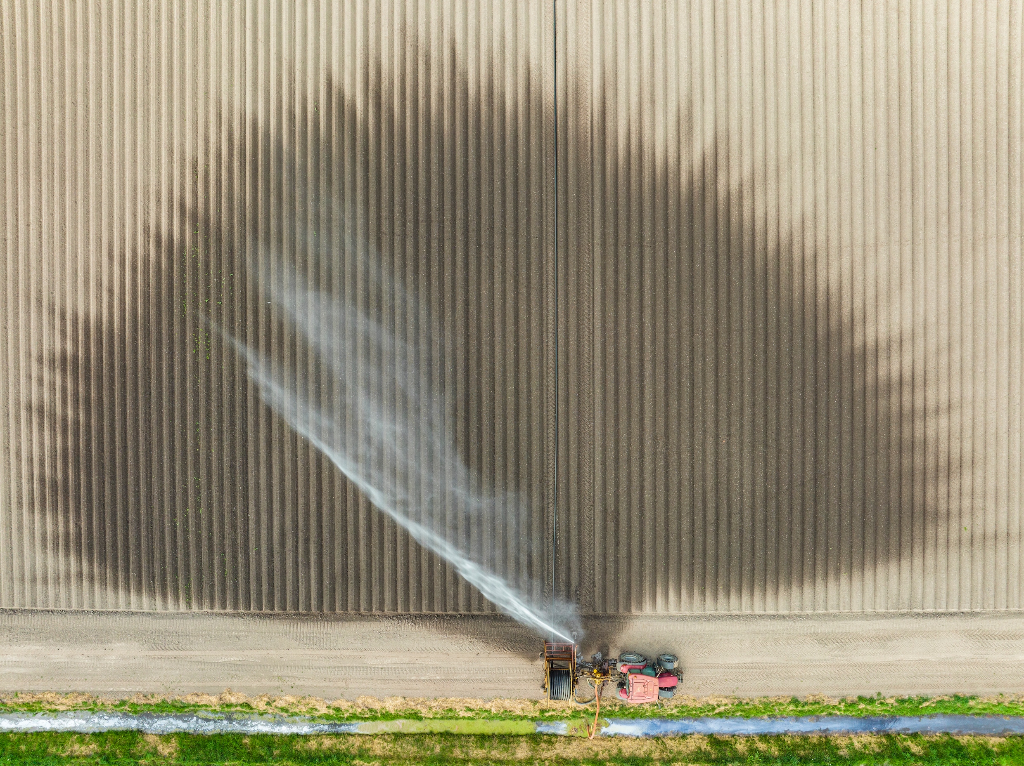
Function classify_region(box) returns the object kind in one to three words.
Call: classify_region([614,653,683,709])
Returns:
work vehicle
